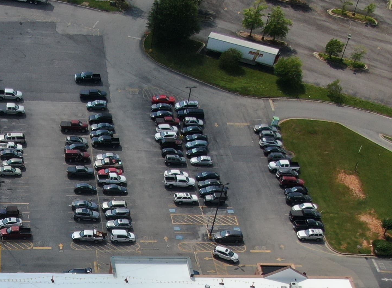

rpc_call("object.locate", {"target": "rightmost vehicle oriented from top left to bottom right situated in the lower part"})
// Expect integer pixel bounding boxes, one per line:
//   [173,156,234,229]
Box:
[212,245,240,266]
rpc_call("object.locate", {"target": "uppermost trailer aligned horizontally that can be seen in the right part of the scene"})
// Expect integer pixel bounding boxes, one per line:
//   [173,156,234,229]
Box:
[208,34,279,69]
